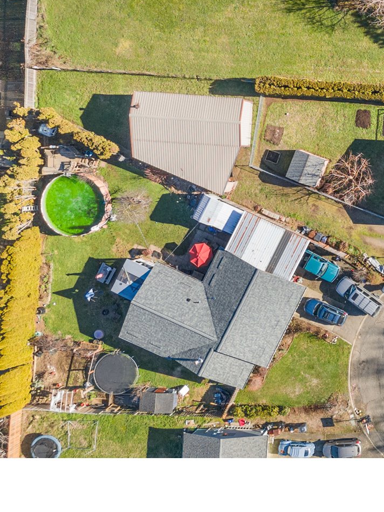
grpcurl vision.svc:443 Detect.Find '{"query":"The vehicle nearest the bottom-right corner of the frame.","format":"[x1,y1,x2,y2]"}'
[319,437,365,460]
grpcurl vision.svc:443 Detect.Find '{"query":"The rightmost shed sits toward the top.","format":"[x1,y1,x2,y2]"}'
[285,149,331,187]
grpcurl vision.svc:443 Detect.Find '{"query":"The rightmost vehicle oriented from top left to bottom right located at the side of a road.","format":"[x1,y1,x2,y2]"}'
[334,275,384,318]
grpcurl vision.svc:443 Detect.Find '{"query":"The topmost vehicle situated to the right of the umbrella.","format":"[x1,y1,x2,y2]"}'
[298,248,343,284]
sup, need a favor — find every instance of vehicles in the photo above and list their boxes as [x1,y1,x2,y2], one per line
[277,437,317,460]
[298,248,343,284]
[303,297,350,325]
[319,437,365,460]
[334,275,384,318]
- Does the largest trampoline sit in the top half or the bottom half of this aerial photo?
bottom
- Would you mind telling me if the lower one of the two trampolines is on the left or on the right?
left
